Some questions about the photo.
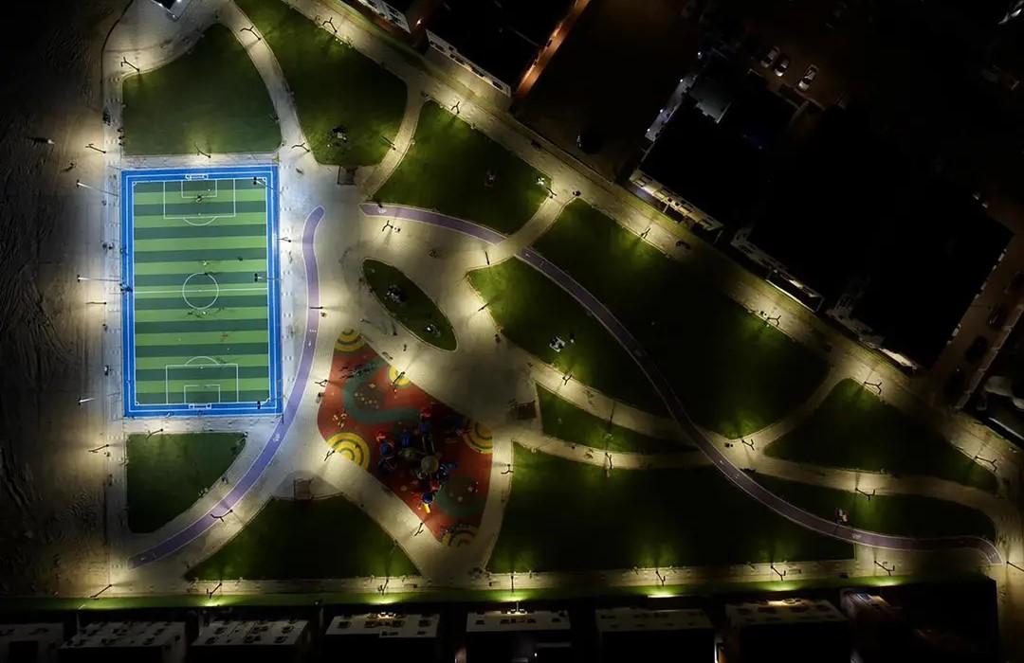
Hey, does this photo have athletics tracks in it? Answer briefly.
Yes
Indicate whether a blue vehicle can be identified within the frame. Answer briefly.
No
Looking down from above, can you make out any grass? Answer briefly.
Yes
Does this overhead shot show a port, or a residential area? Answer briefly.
residential area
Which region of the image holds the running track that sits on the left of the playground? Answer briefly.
left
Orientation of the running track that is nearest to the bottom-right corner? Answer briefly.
diagonally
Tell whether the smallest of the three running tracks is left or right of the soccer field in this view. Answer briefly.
on its right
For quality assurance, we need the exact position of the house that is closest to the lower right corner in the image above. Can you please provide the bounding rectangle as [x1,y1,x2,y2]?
[899,604,994,663]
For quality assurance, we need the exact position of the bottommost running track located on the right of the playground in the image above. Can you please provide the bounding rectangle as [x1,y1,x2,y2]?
[514,244,1003,567]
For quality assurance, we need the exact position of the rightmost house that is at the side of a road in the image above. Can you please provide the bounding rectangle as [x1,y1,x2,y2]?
[970,375,1024,439]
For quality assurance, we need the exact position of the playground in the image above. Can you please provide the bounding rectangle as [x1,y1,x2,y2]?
[318,333,493,546]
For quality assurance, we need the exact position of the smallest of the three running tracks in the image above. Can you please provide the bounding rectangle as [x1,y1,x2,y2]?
[362,203,506,247]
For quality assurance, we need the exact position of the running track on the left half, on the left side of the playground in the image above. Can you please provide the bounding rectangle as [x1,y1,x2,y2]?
[127,203,328,571]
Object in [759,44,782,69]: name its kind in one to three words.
car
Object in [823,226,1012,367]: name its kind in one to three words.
house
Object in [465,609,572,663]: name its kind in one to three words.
house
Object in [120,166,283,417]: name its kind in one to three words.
soccer field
